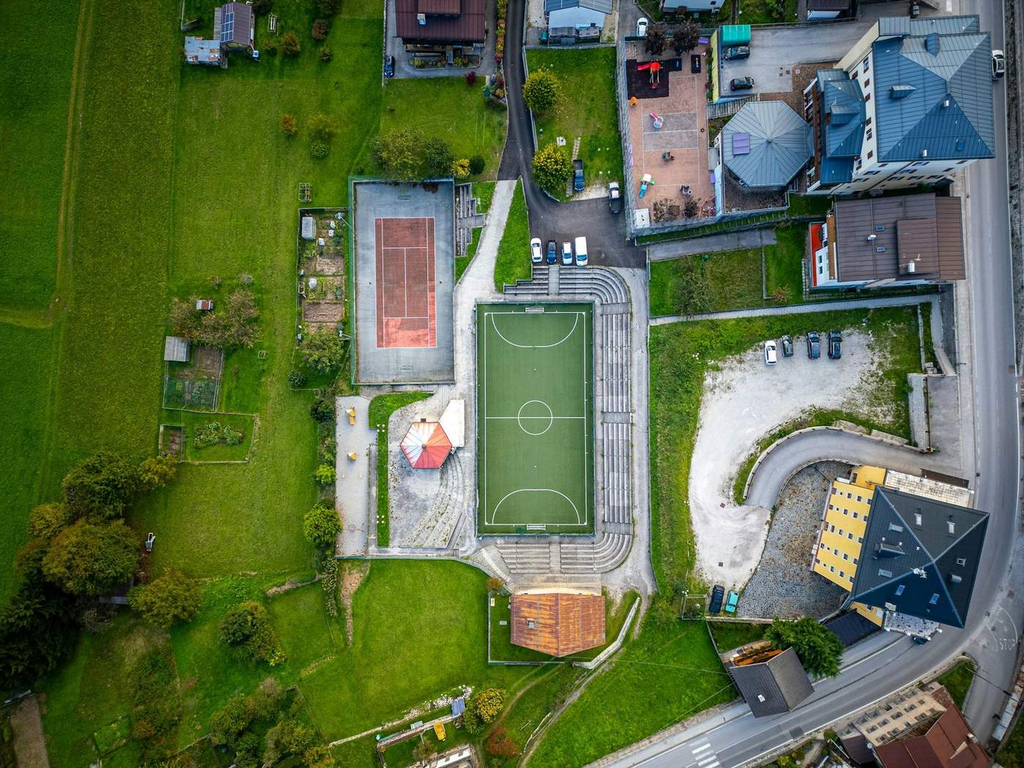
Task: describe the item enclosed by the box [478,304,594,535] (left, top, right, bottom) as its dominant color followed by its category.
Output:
green sports field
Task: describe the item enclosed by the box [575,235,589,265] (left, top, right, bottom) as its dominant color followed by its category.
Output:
white vehicle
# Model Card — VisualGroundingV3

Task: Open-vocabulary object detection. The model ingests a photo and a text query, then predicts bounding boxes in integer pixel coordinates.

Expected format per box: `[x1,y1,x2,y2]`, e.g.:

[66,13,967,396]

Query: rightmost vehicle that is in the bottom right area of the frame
[908,634,934,650]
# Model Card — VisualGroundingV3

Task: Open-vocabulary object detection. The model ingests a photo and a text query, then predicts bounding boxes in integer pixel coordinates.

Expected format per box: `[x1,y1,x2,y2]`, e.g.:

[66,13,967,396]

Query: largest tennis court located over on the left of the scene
[353,181,455,384]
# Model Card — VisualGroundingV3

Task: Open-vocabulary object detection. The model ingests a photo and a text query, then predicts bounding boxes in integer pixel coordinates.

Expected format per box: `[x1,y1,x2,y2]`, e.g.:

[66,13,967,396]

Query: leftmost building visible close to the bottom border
[415,737,480,768]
